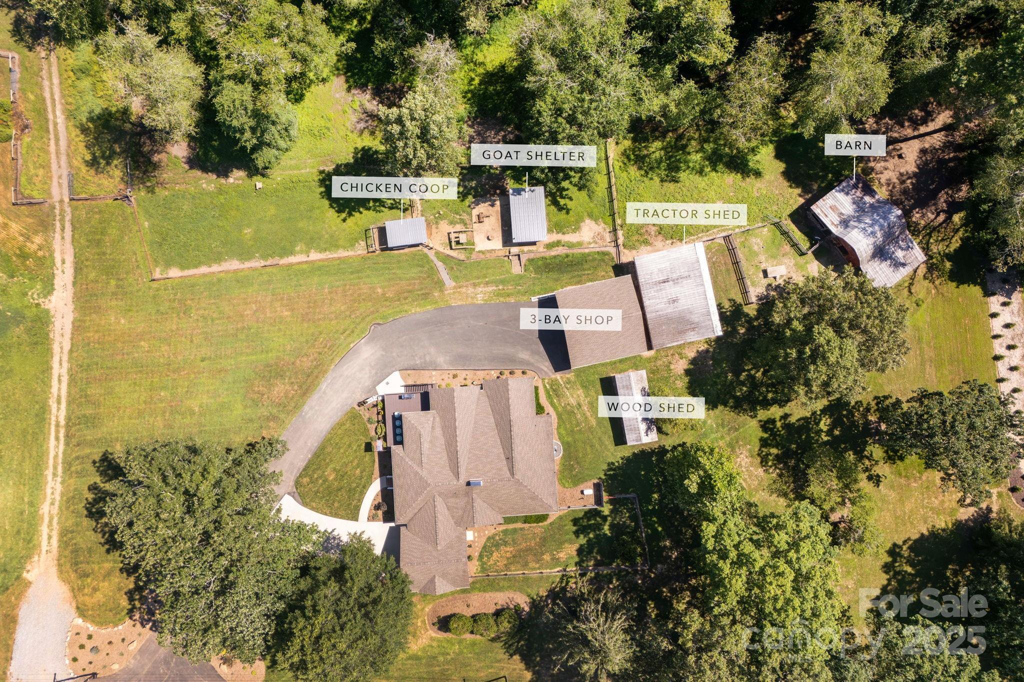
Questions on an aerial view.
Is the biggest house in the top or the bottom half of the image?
bottom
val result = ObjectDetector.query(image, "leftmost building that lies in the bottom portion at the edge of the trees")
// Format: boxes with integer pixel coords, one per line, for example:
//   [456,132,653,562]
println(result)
[391,377,559,595]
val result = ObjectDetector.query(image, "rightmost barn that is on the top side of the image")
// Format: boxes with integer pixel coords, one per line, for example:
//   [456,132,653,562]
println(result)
[806,172,926,290]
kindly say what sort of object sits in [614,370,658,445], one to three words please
shed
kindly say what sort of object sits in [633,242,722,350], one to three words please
shed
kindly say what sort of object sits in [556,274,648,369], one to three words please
building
